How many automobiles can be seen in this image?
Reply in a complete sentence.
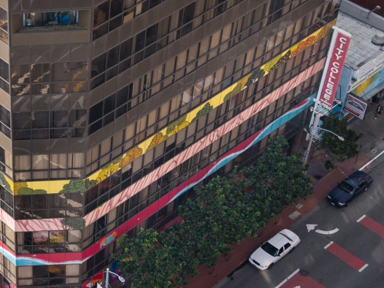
The count of automobiles comes to 2.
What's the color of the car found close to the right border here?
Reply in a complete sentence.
The color of the car found close to the right border is black.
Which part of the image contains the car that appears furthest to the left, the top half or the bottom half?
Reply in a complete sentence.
It is in the bottom half that the car that appears furthest to the left appears.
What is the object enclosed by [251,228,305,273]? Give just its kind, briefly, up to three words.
car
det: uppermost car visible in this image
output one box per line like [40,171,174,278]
[329,170,379,211]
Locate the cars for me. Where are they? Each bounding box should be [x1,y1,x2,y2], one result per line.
[329,170,379,211]
[251,228,305,273]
